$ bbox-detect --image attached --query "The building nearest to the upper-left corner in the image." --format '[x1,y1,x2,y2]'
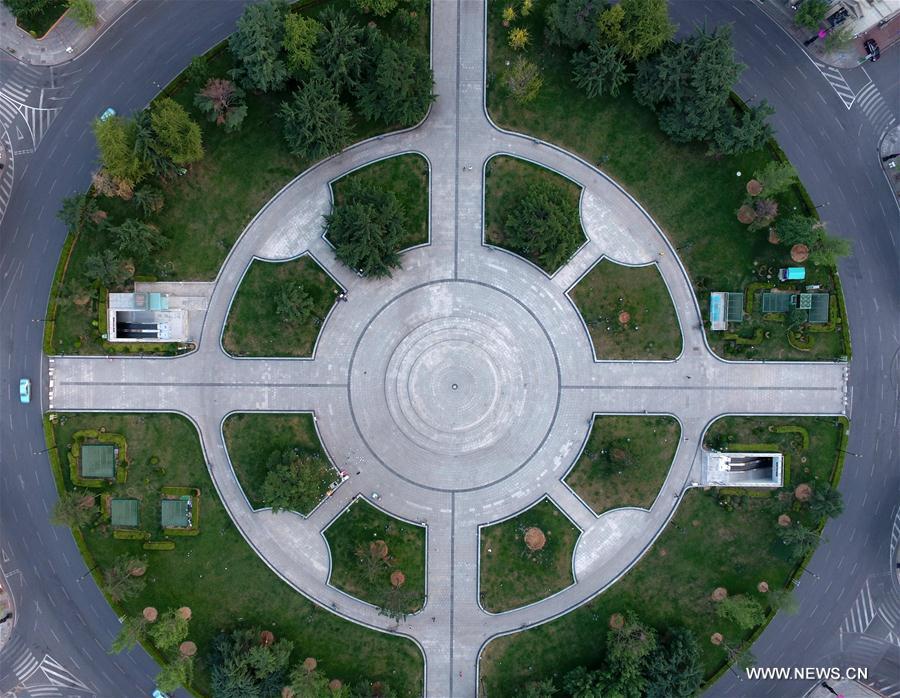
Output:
[109,293,171,309]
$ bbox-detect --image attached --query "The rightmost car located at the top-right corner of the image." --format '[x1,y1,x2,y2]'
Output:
[865,35,880,60]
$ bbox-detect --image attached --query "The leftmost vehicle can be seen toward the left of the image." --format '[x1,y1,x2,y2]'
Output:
[17,379,30,404]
